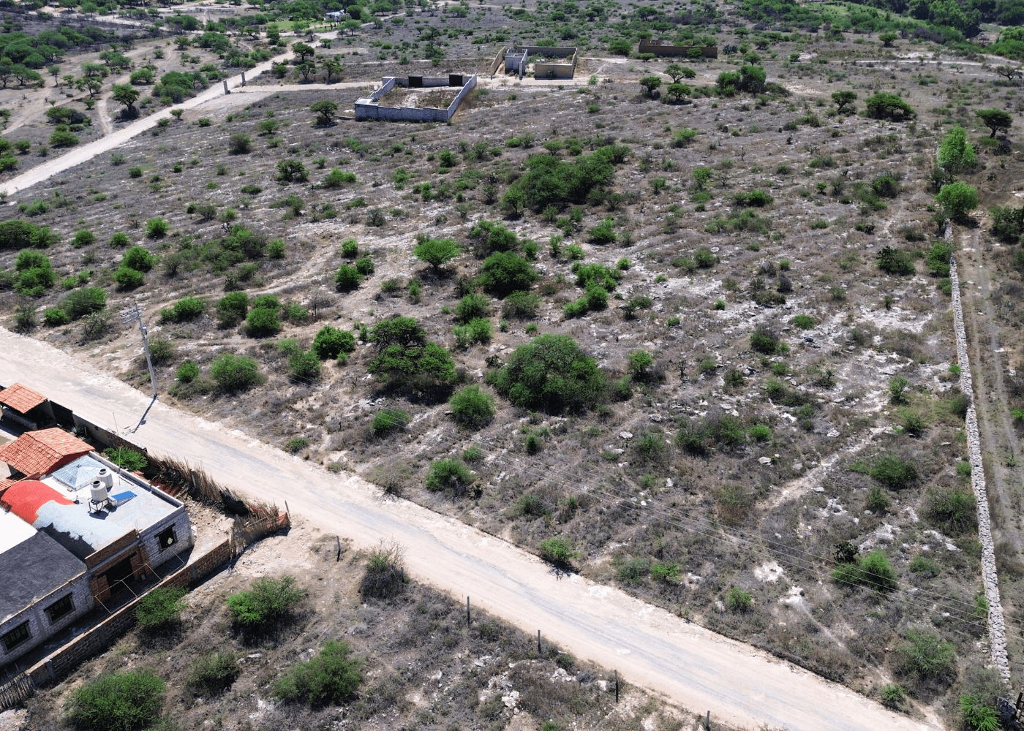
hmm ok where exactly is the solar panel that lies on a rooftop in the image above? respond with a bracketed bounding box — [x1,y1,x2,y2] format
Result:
[113,490,137,509]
